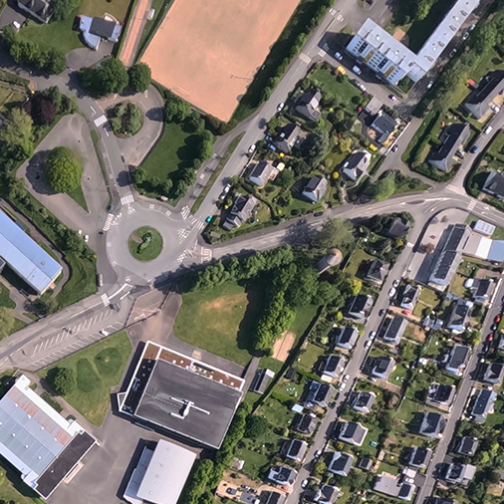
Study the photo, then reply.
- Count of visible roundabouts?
one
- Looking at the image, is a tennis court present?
No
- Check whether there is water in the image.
No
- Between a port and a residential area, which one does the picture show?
residential area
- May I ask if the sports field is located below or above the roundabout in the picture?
above it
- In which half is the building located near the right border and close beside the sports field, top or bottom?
top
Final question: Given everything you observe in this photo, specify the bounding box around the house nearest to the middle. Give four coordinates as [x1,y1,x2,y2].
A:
[226,196,257,232]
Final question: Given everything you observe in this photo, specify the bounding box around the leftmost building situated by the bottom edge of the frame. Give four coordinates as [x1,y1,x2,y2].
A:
[0,374,96,499]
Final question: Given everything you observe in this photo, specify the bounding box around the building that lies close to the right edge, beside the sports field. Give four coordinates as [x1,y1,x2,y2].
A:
[352,0,479,93]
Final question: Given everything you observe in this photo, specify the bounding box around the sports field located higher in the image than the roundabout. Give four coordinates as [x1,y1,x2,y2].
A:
[136,0,298,119]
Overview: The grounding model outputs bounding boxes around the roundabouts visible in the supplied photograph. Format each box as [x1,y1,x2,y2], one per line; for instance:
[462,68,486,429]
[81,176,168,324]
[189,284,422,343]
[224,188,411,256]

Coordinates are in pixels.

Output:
[106,200,195,290]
